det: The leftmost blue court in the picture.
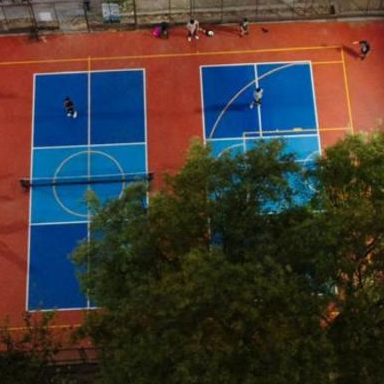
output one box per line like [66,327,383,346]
[26,68,150,311]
